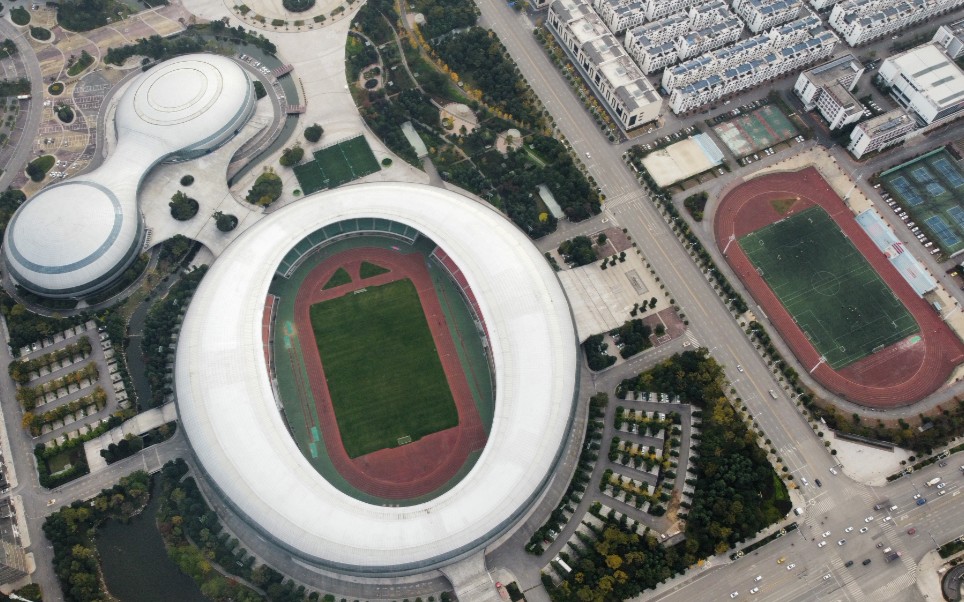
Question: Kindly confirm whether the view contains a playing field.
Yes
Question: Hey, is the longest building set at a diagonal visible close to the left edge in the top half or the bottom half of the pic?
top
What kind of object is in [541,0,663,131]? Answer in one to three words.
building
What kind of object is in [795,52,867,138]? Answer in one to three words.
building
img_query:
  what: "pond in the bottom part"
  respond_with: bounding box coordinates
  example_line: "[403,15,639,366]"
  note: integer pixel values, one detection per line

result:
[97,471,199,602]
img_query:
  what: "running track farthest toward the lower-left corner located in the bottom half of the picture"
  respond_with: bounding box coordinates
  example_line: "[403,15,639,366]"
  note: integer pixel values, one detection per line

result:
[283,236,489,501]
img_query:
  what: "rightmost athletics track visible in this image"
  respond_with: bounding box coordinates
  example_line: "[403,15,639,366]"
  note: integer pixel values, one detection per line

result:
[715,165,964,408]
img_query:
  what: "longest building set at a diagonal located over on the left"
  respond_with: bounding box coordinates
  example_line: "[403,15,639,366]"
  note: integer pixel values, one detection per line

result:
[2,50,258,298]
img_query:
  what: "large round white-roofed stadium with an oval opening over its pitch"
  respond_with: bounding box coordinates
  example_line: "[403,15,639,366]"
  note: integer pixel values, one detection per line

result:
[171,177,586,579]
